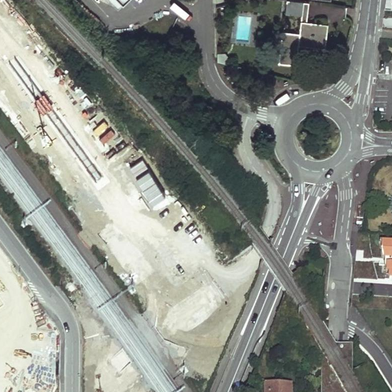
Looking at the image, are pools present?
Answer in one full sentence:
Yes, looking at the shot, I can spot a pool.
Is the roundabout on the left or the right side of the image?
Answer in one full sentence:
It is on the right.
